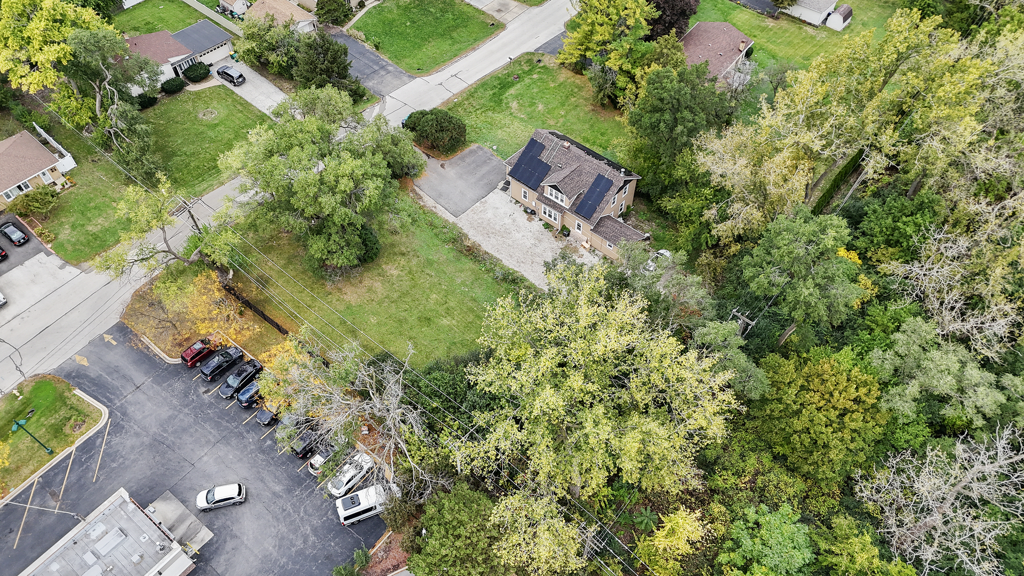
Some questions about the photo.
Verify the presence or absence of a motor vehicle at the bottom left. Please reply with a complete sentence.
Yes, a motor vehicle appears at the bottom left.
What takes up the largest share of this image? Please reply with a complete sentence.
What you mostly see from above here is trees.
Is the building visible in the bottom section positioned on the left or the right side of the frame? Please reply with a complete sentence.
The building visible in the bottom section is on the left side of the image.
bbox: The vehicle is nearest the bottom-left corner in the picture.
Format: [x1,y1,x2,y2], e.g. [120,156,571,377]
[194,483,248,513]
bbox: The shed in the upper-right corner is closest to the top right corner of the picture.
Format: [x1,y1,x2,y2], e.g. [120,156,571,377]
[826,1,854,30]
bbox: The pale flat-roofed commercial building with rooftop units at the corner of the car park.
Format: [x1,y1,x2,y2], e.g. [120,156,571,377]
[19,486,202,576]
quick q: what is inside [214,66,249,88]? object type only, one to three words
car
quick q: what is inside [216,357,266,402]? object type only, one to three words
car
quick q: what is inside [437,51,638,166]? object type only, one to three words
house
